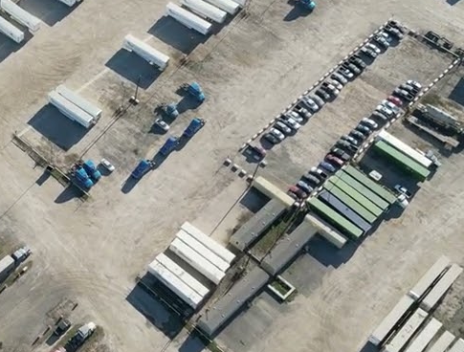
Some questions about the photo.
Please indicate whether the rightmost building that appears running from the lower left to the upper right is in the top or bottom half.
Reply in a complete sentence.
The rightmost building that appears running from the lower left to the upper right is in the bottom half of the image.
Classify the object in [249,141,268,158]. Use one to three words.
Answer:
vehicle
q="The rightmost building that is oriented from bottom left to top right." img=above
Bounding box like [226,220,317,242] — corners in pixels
[260,219,319,278]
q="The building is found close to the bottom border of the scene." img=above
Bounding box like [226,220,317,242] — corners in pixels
[196,265,270,340]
